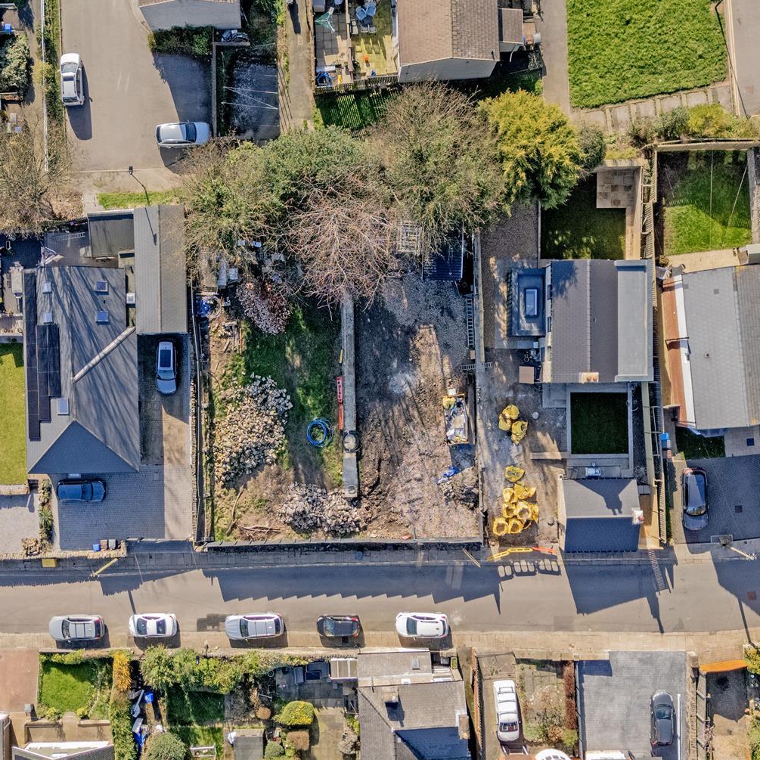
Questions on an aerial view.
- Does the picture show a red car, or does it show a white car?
white car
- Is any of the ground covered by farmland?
No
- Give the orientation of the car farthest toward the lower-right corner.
from top to bottom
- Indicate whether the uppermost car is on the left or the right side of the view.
left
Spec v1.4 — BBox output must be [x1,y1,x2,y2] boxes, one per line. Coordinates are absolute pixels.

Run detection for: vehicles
[128,613,177,640]
[317,614,361,639]
[55,54,84,108]
[55,478,108,504]
[151,340,178,394]
[156,120,209,147]
[649,688,677,746]
[49,614,107,644]
[225,613,284,643]
[395,610,448,639]
[680,472,711,528]
[493,676,522,741]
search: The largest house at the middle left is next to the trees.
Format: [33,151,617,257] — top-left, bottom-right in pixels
[8,267,140,478]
